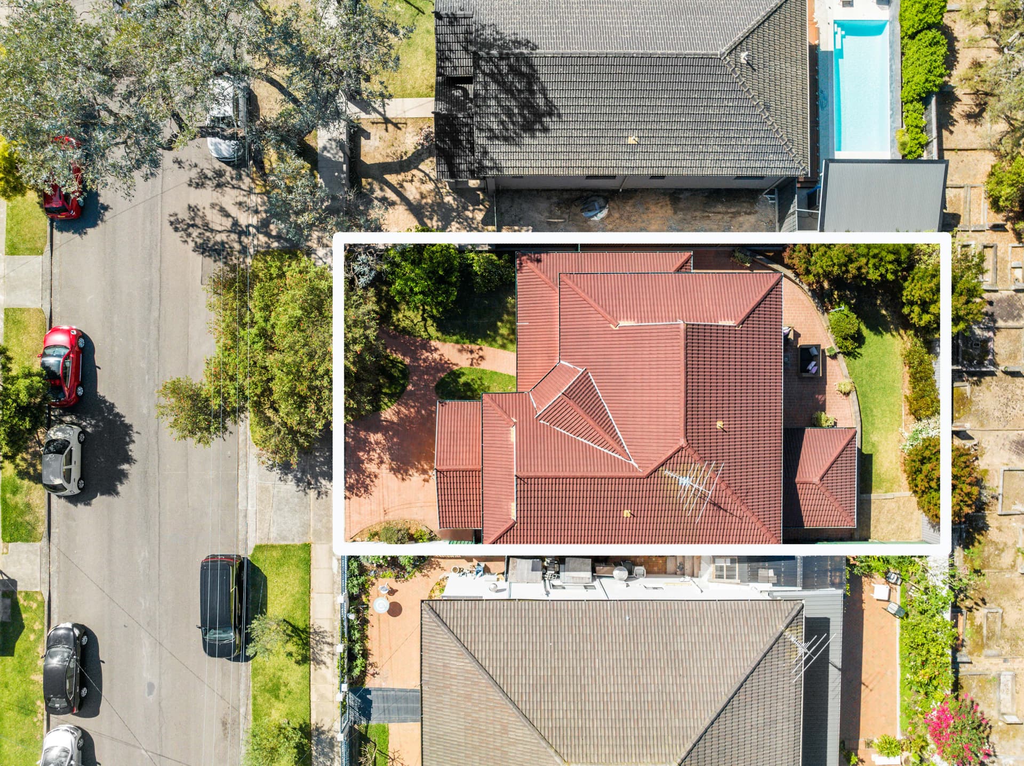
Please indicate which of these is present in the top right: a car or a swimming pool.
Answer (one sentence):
The one visible in the top right is a swimming pool.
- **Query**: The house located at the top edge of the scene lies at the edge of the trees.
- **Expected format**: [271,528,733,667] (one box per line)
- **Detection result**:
[430,0,812,190]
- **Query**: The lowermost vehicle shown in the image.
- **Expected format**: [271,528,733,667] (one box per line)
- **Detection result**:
[30,718,84,766]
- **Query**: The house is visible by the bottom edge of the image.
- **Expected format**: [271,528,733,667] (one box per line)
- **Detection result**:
[417,564,807,766]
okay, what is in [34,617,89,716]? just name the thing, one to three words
car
